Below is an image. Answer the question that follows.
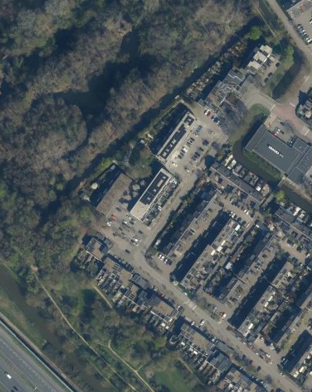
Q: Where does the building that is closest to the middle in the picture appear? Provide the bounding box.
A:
[130,169,176,224]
